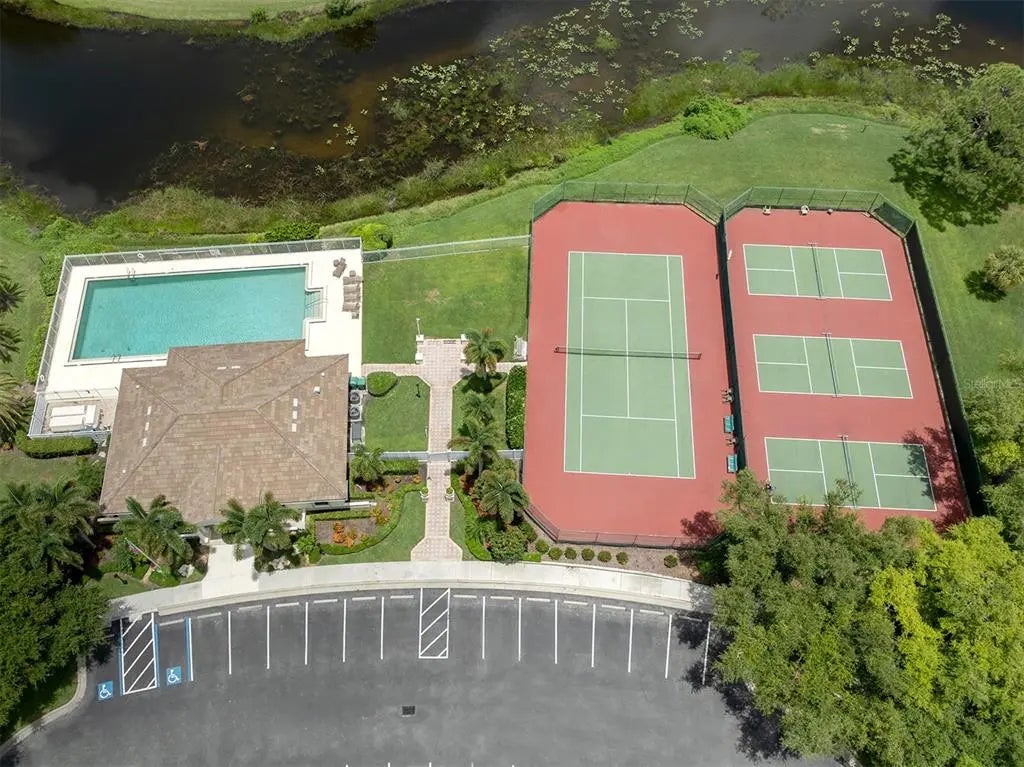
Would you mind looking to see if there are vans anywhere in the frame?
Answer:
No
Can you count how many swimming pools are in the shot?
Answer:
1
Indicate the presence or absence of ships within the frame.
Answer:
No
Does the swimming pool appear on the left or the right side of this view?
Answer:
left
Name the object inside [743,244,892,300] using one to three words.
sports court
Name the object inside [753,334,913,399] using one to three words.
sports court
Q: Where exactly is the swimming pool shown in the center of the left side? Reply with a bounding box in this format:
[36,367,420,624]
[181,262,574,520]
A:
[47,249,362,440]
